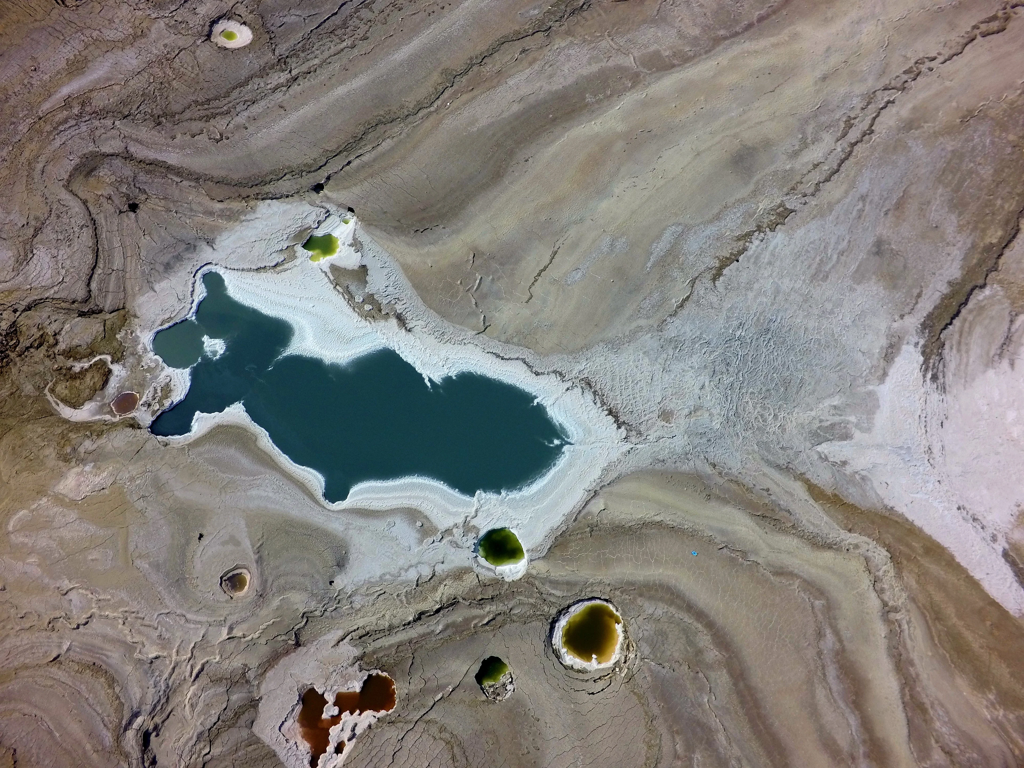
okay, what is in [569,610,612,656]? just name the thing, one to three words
pond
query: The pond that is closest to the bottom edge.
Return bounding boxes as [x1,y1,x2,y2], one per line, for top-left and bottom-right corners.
[302,677,393,760]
